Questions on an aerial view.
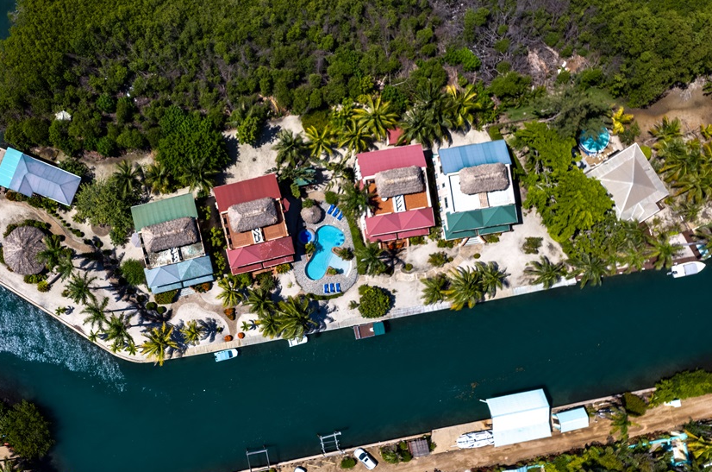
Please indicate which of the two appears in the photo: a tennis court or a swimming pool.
swimming pool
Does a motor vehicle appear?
Yes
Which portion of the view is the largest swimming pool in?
center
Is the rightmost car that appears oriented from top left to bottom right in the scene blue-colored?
No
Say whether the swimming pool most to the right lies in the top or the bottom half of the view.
top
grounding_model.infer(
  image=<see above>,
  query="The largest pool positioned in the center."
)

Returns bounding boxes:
[293,201,358,296]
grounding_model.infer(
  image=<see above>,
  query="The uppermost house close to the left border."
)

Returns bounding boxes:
[0,148,81,205]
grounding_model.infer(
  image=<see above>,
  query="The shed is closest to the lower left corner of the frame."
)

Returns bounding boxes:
[4,228,46,272]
